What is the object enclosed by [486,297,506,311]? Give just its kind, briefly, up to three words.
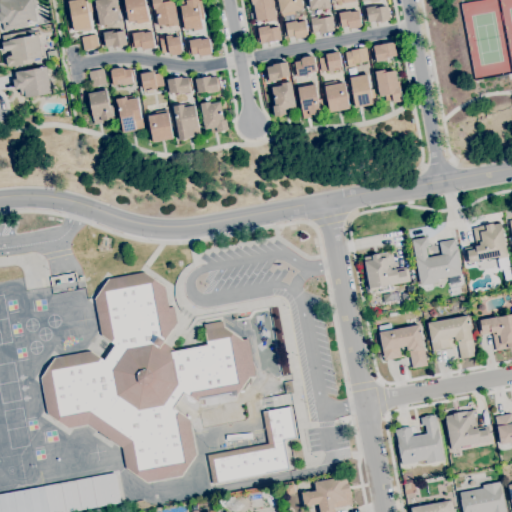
swimming pool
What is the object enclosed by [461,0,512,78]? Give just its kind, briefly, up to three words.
tennis court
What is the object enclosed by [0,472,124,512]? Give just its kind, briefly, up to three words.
building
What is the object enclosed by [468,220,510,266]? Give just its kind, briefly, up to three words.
house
